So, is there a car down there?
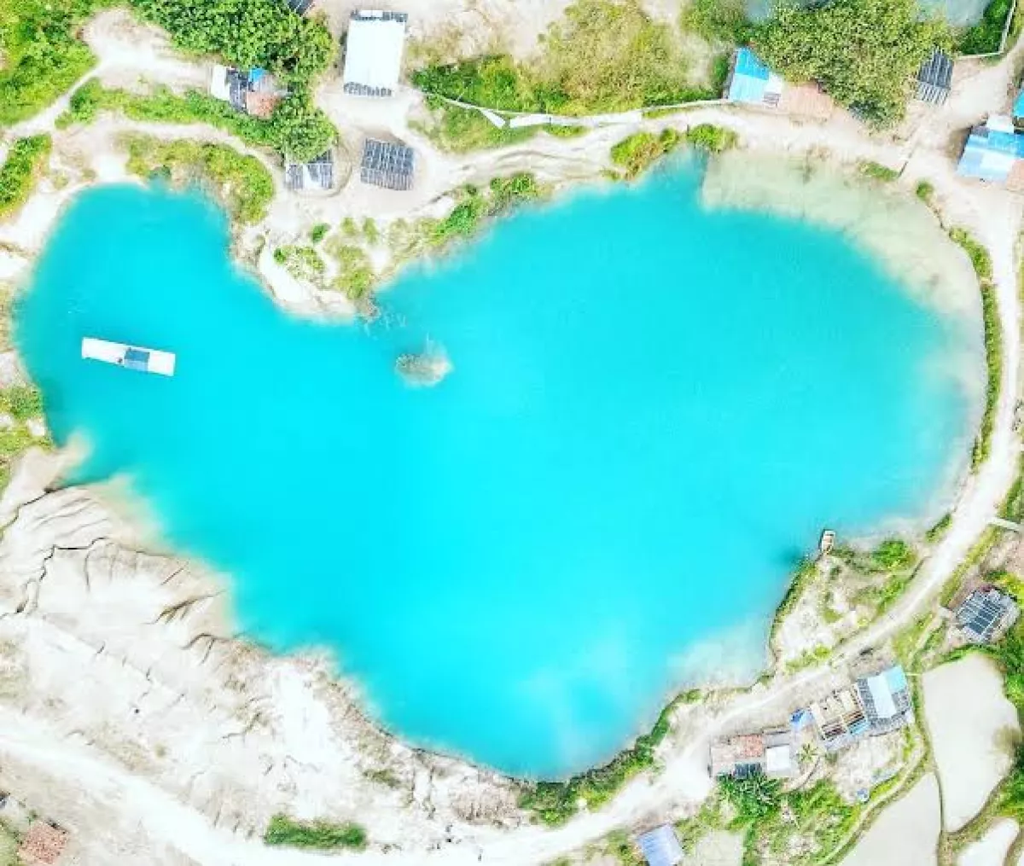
No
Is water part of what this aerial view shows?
Yes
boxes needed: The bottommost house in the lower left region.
[18,817,72,865]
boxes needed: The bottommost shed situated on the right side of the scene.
[637,821,683,866]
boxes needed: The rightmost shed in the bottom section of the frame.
[951,587,1017,642]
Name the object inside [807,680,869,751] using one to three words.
house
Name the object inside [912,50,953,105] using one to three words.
shed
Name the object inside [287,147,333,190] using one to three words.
shed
